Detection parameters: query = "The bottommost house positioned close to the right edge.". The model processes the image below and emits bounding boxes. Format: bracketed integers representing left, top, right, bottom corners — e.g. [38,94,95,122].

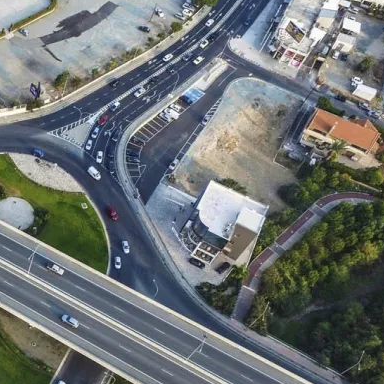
[296,107,384,165]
